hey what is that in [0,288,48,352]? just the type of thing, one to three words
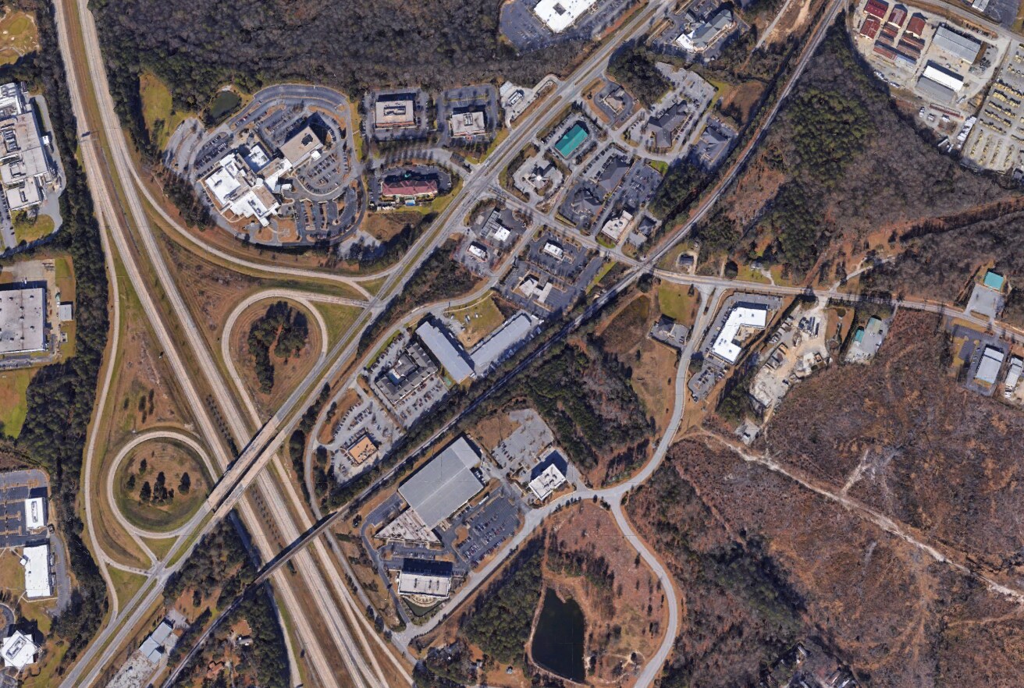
building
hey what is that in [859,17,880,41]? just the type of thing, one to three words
shed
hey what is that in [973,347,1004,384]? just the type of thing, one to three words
building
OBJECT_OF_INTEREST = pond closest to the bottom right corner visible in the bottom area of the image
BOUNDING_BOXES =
[530,587,585,682]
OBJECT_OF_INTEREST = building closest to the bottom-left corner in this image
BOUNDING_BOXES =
[0,628,42,669]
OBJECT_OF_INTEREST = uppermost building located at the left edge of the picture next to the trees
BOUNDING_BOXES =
[0,81,53,211]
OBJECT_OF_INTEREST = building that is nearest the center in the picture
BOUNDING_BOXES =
[470,315,531,365]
